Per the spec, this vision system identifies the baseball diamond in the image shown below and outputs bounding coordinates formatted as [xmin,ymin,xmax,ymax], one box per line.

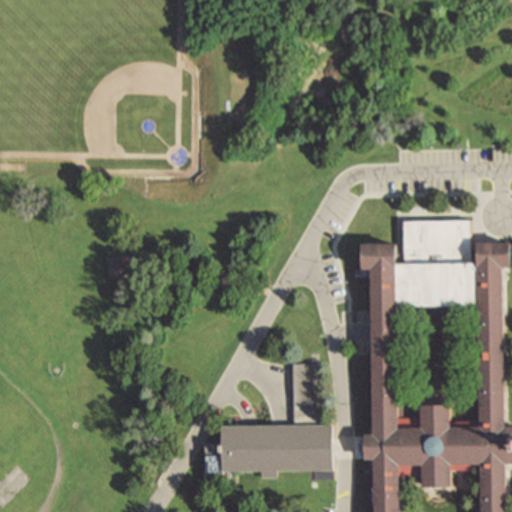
[0,0,200,178]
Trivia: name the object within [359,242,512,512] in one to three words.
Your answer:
building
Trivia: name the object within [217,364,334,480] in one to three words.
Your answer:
building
